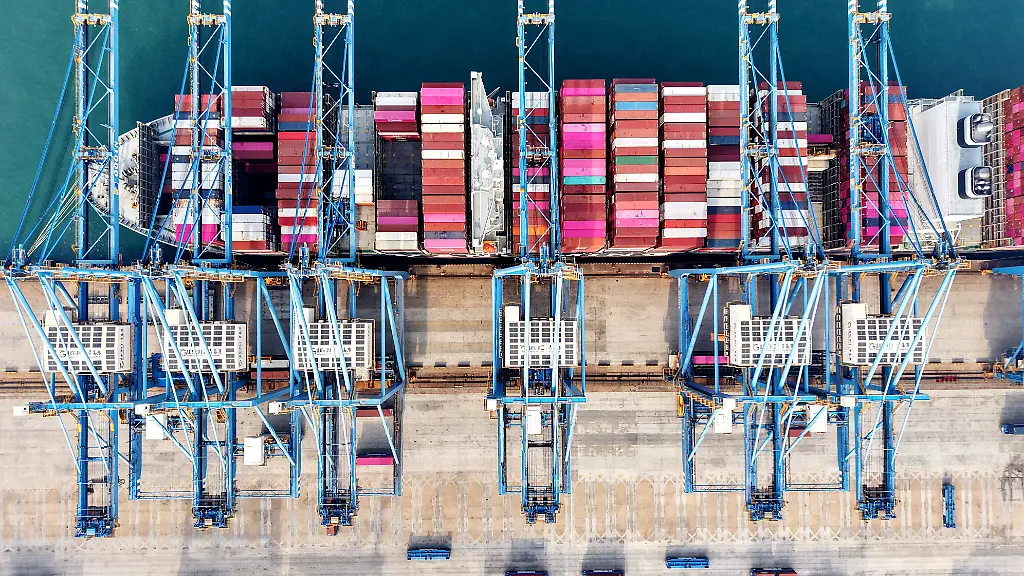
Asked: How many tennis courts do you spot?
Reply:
0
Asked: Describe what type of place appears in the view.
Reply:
port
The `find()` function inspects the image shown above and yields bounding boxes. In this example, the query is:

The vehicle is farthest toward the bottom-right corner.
[942,482,955,527]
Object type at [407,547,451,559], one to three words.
vehicle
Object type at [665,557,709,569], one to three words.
vehicle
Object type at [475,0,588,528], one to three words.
container crane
